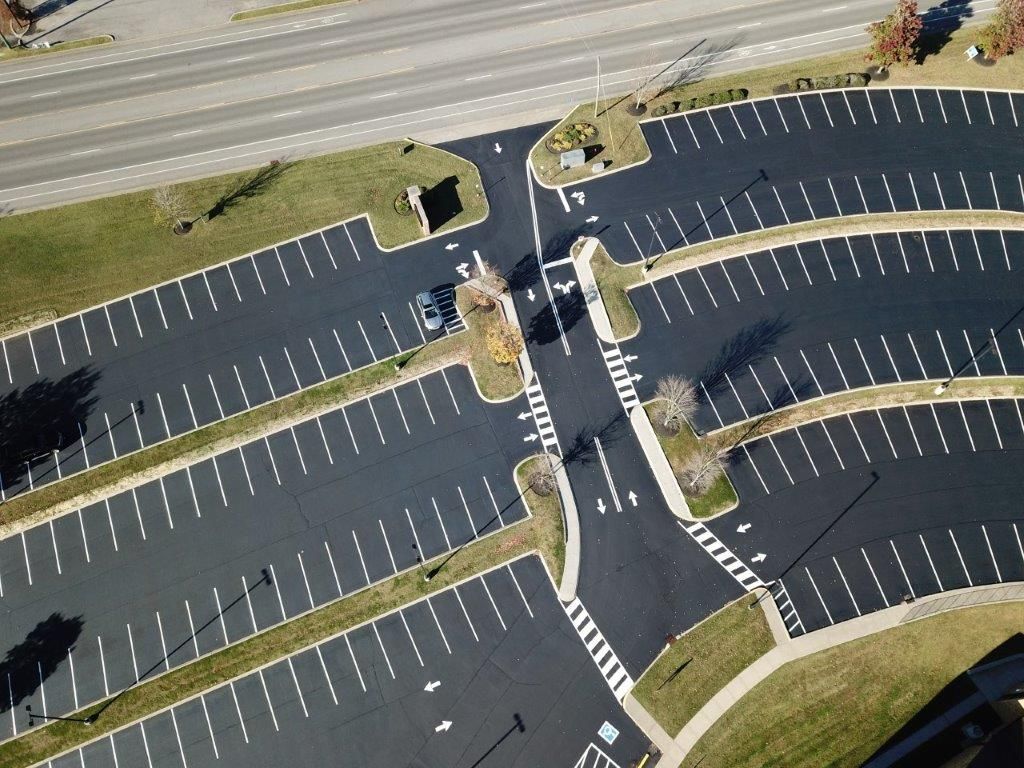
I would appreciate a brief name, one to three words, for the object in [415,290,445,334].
car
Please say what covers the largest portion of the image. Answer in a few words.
paved ground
